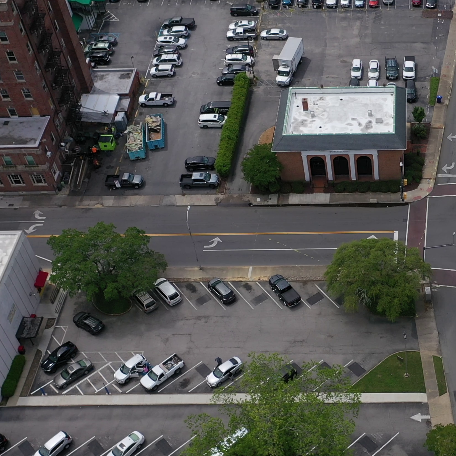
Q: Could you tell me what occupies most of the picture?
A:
paved ground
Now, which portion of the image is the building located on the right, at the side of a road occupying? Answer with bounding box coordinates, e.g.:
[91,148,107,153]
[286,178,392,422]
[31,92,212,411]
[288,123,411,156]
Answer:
[270,79,407,181]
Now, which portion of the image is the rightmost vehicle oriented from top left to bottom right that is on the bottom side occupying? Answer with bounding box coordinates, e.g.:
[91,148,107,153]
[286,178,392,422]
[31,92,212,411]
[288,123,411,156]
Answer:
[268,274,303,310]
